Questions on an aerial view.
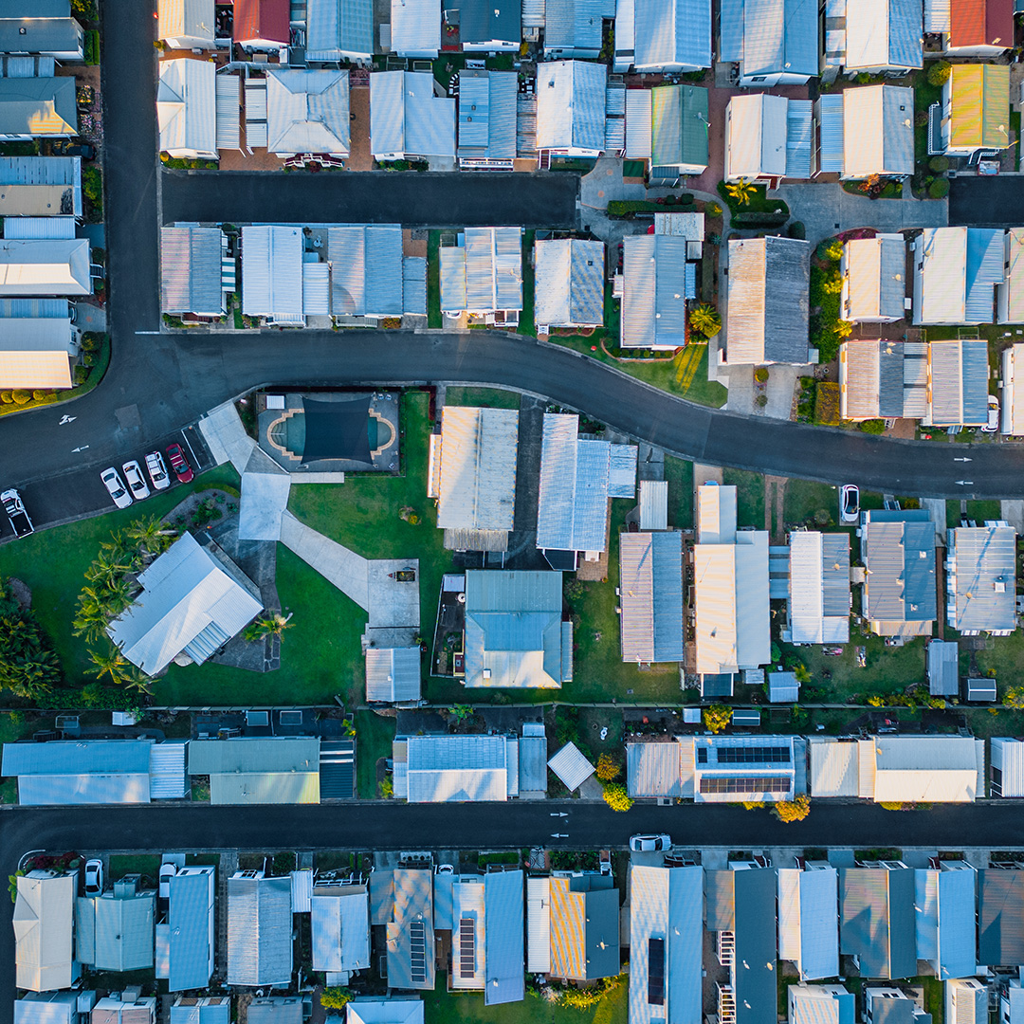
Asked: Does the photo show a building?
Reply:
Yes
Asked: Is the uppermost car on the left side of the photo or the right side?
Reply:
left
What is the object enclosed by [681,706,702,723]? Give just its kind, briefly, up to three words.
shed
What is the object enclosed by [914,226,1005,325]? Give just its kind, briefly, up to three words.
house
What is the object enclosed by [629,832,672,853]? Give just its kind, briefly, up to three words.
car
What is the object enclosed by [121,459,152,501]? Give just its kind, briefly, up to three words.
car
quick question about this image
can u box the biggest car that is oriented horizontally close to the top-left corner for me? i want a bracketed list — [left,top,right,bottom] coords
[63,140,105,161]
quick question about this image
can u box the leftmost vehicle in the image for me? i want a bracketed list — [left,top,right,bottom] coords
[2,489,35,538]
